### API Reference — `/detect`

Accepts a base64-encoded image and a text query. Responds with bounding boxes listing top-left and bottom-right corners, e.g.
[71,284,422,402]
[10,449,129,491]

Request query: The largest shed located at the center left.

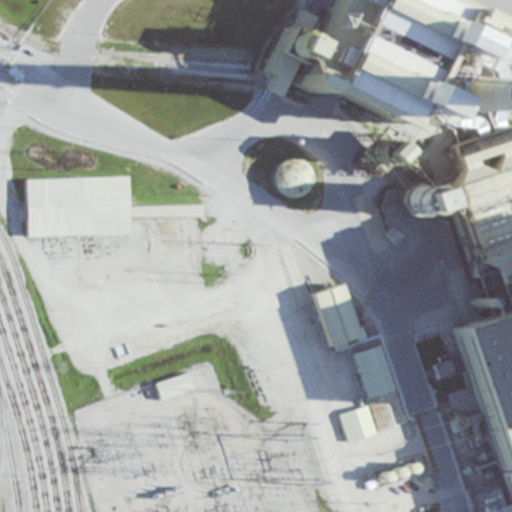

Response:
[22,176,132,237]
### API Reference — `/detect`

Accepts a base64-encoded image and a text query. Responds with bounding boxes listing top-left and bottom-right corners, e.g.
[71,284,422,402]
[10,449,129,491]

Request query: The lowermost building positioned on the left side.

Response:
[153,373,196,400]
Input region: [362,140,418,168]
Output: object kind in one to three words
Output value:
silo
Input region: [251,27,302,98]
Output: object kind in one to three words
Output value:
house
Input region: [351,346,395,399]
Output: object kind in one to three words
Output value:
building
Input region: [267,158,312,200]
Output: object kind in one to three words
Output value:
storage tank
